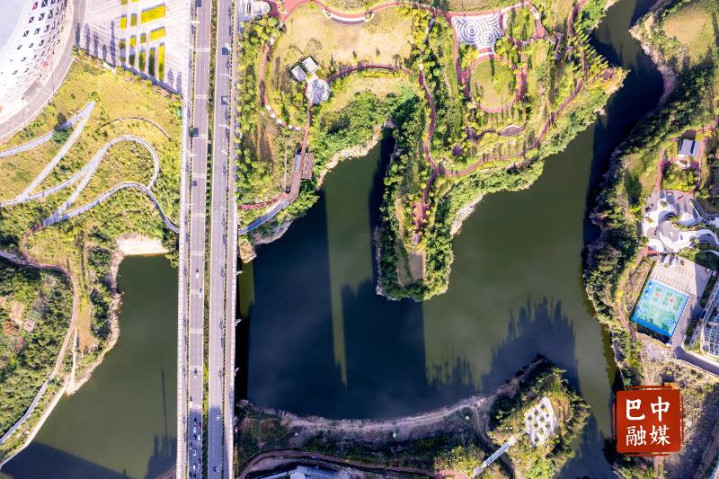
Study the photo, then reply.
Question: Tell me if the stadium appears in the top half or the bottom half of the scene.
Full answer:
You can find the stadium in the top half.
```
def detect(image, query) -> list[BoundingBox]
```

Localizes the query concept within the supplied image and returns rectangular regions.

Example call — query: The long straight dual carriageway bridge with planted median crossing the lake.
[175,0,243,479]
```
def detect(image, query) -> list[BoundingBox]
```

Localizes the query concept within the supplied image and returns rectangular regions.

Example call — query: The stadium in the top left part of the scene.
[0,0,66,110]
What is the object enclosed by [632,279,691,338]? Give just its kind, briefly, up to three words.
sports court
